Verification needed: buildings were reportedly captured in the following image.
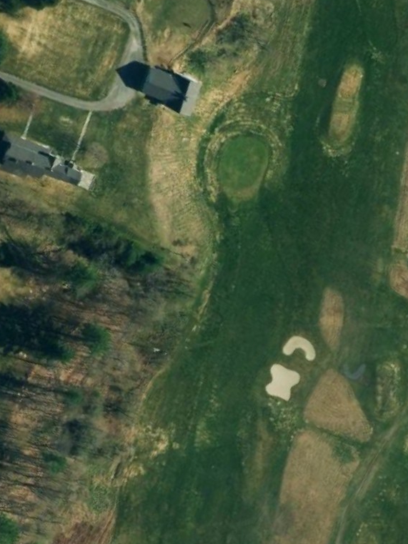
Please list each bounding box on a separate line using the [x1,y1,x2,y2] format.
[3,134,95,190]
[141,65,205,118]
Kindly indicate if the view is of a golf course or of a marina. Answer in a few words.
golf course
